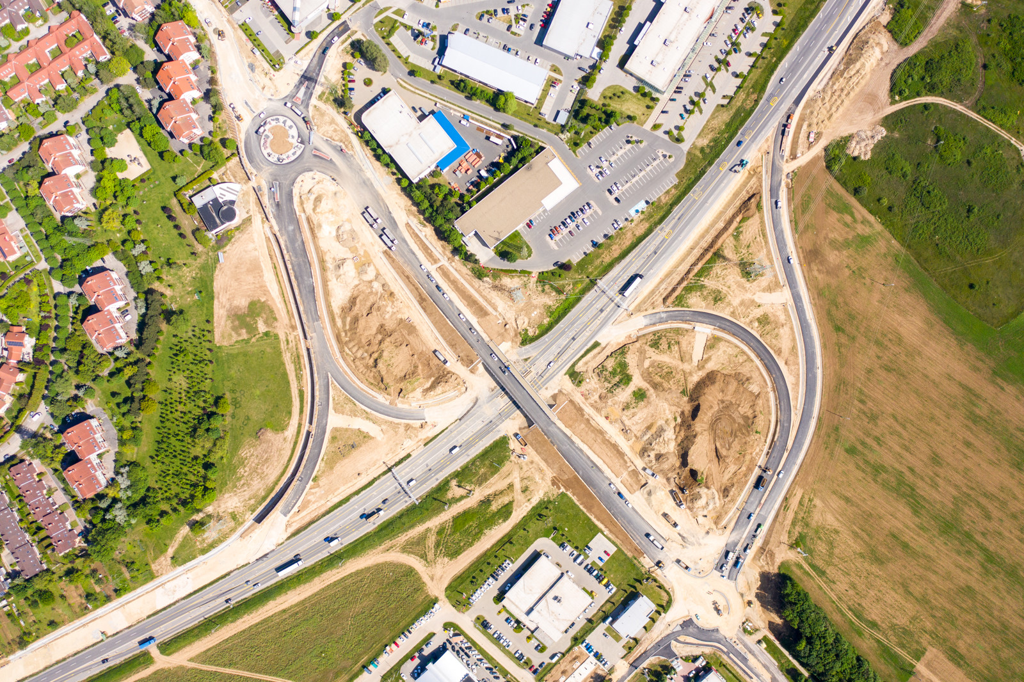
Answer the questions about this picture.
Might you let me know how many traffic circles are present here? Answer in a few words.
2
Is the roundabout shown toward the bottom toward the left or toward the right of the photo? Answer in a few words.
right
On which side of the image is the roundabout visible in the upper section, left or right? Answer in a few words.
left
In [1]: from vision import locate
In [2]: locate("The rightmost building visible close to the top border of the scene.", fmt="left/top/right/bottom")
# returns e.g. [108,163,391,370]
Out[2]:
[622,0,733,98]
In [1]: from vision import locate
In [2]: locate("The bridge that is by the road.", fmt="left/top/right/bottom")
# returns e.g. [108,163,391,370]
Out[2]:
[468,340,567,433]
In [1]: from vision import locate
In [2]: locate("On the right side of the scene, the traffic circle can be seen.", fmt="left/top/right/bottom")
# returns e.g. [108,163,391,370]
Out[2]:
[672,557,746,631]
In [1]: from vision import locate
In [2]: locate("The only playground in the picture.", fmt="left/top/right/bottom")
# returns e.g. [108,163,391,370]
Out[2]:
[106,129,150,170]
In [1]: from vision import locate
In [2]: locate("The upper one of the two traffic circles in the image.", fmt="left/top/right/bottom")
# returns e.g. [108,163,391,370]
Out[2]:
[244,101,320,176]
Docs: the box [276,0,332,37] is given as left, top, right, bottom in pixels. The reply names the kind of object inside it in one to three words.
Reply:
building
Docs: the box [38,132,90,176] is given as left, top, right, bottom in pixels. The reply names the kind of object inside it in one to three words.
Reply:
house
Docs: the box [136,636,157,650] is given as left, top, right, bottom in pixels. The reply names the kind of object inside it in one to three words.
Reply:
vehicle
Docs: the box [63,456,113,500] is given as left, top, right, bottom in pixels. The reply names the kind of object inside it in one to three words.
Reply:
house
